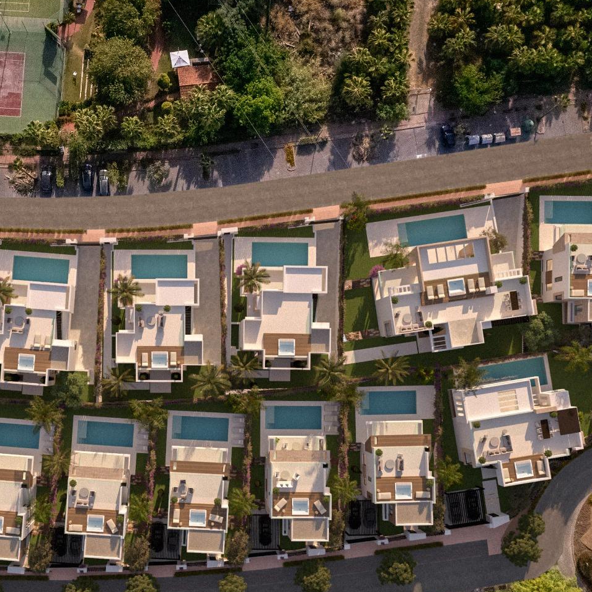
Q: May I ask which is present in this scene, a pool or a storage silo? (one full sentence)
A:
It is a pool that can be seen here.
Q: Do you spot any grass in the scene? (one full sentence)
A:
Yes, the picture does contain grass.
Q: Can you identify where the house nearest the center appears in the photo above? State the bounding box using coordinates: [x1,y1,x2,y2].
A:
[238,266,331,370]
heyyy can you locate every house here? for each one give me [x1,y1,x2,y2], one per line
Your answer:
[0,452,45,563]
[166,443,237,557]
[366,237,538,351]
[0,280,80,386]
[435,376,587,484]
[115,280,205,385]
[64,448,140,562]
[265,434,337,543]
[538,222,592,331]
[361,419,437,528]
[238,266,331,370]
